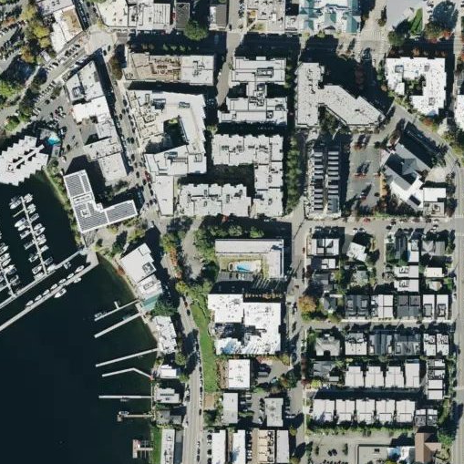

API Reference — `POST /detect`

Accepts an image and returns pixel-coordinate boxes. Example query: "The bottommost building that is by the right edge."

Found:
[398,433,442,464]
